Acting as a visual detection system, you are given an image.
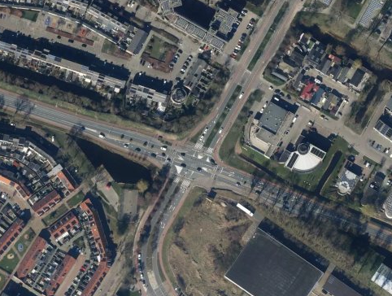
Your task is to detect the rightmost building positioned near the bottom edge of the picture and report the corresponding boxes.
[372,263,392,294]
